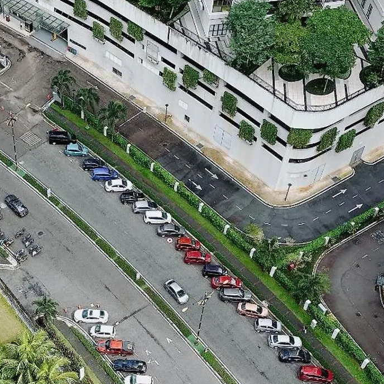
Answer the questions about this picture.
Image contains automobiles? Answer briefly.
Yes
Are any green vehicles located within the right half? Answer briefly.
No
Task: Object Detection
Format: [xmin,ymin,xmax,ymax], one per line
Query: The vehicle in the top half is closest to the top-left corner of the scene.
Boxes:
[48,133,76,145]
